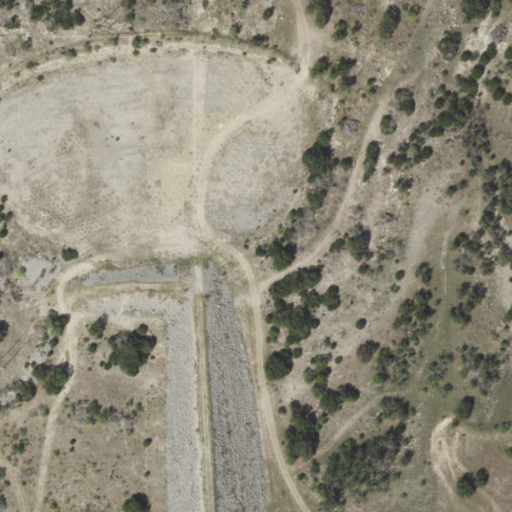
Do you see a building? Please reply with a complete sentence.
No, the frame has no building in it.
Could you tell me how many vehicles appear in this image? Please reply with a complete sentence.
No vehicles are visible.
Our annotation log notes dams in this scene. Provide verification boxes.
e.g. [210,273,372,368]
[68,261,266,512]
